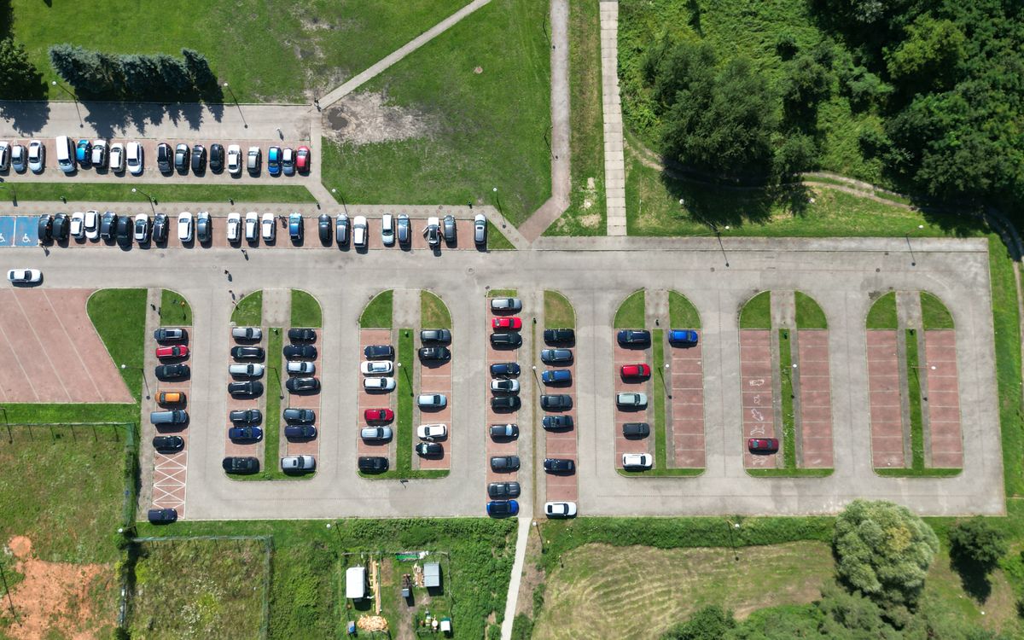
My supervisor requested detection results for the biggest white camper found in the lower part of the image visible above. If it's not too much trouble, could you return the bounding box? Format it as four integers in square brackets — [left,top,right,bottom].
[346,557,369,598]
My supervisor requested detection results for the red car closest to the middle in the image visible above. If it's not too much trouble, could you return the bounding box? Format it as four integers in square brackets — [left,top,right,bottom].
[492,316,522,330]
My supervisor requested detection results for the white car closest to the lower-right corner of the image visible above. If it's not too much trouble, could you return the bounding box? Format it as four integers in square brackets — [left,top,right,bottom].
[622,453,652,468]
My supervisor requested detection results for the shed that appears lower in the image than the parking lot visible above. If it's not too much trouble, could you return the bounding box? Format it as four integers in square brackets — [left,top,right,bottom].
[424,560,440,586]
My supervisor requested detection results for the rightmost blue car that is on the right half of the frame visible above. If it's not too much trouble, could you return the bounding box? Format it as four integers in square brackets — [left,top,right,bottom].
[668,329,698,344]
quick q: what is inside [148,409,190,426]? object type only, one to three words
vehicle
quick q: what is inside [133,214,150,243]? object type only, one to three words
car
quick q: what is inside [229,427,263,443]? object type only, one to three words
car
